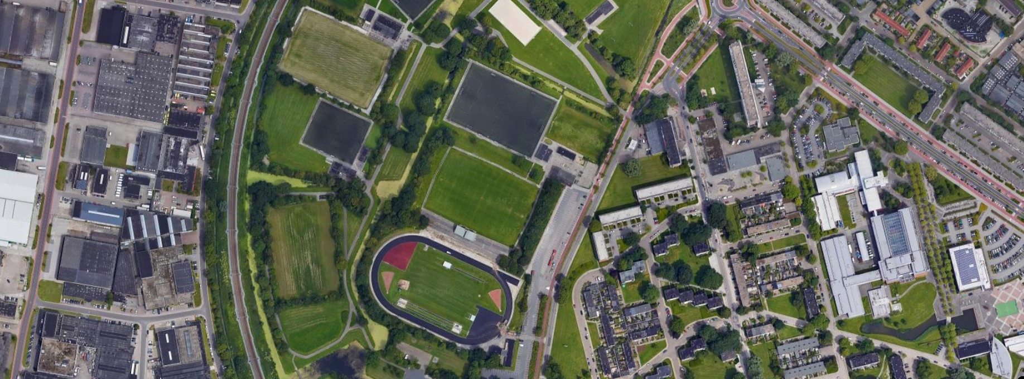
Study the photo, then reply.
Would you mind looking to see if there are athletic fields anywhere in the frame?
Yes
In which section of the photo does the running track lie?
bottom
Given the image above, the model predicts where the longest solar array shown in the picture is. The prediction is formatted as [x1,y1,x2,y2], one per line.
[954,249,980,285]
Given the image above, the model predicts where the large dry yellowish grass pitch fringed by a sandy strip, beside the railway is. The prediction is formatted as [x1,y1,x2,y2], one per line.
[280,7,395,113]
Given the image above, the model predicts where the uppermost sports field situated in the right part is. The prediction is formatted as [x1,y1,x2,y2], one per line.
[600,8,661,55]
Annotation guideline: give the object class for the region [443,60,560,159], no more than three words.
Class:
soccer field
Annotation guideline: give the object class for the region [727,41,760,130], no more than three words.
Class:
building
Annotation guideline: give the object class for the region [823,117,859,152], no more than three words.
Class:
building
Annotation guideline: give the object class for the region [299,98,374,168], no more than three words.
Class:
sports field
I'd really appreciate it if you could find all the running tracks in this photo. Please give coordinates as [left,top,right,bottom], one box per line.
[369,233,520,344]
